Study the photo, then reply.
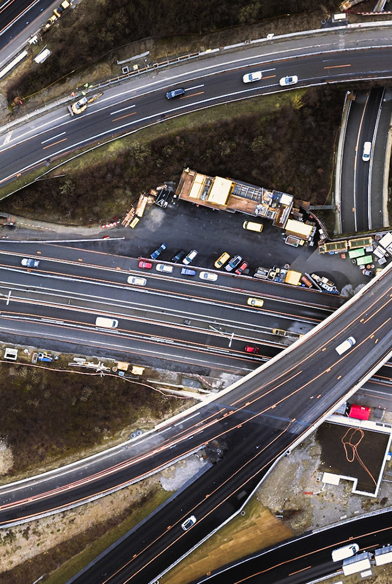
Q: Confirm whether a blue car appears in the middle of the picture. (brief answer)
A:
Yes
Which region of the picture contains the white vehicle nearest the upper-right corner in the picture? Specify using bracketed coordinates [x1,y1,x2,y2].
[278,74,298,87]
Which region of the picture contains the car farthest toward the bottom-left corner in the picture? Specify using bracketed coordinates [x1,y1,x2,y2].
[181,515,197,532]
